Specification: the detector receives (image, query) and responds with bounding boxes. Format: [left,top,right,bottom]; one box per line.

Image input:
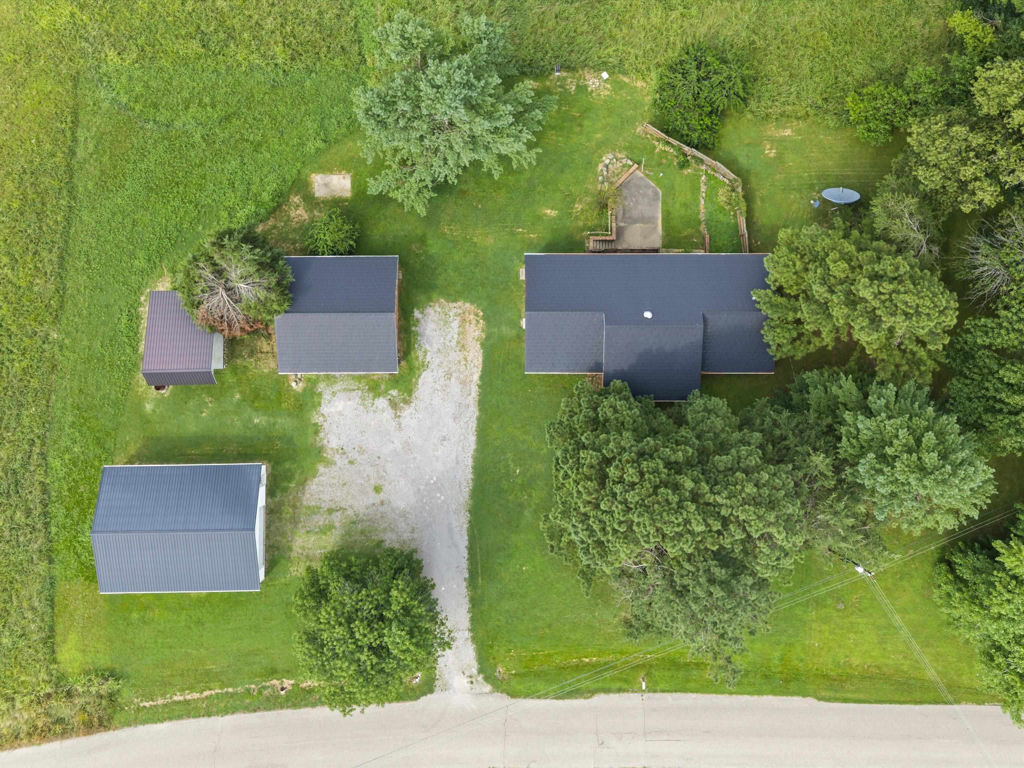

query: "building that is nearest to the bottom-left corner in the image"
[90,462,269,595]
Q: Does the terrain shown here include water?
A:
No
